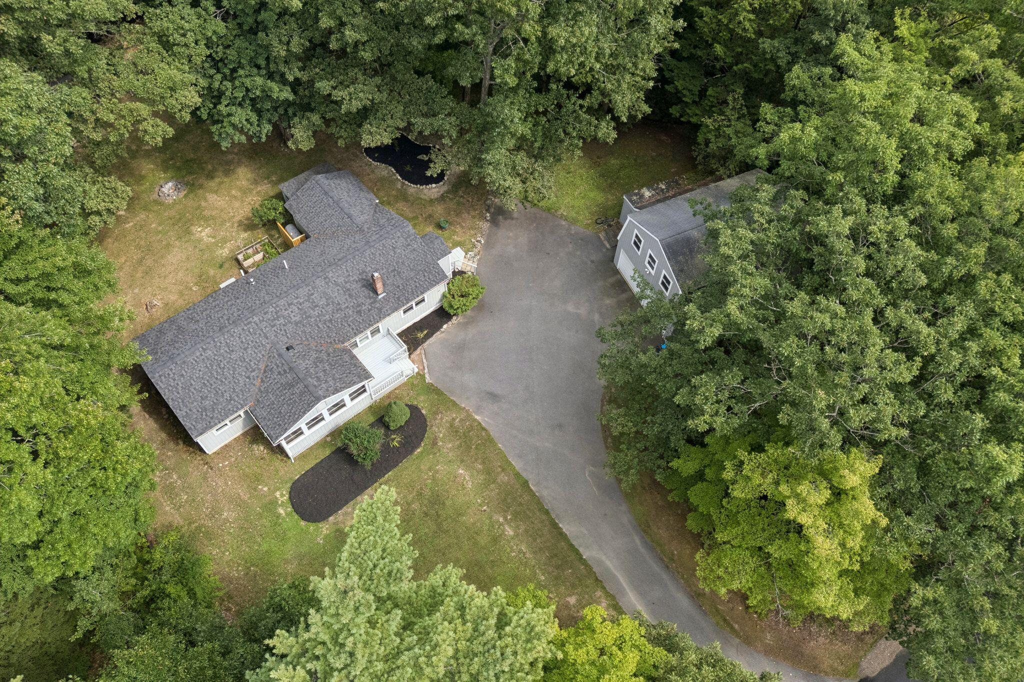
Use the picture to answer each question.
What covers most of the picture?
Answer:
trees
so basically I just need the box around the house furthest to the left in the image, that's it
[131,162,452,462]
